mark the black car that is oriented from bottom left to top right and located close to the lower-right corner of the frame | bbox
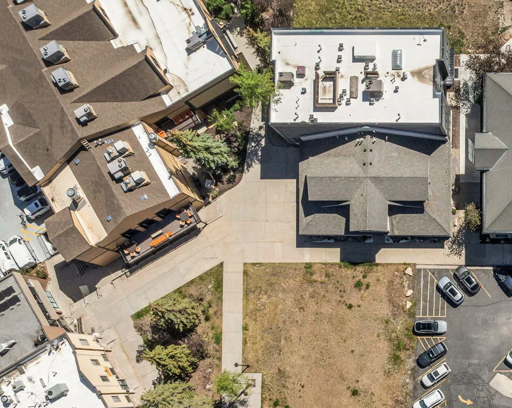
[416,342,449,368]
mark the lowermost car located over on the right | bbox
[413,390,445,408]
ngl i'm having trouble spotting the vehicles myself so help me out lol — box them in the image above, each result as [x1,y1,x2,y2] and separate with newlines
[8,234,38,271]
[414,320,447,335]
[494,267,512,299]
[416,342,449,368]
[419,363,452,389]
[22,194,52,219]
[9,179,42,205]
[454,265,481,297]
[0,240,23,273]
[438,276,465,309]
[413,390,445,408]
